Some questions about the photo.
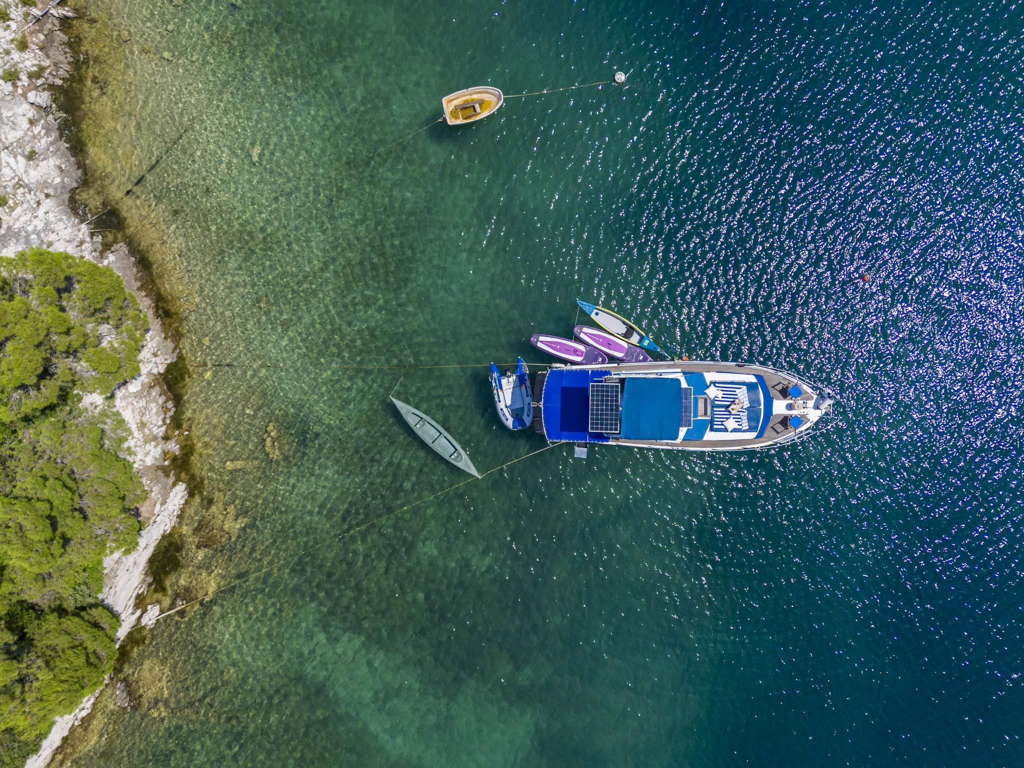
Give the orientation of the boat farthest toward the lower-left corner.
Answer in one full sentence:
From this overhead view, the boat farthest toward the lower-left corner appears to run on a diagonal.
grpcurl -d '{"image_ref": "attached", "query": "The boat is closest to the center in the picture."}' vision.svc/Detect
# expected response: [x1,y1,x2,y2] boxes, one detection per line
[490,357,533,430]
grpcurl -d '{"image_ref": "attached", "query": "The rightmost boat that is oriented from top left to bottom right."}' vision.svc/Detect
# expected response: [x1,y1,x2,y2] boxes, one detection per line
[576,301,672,359]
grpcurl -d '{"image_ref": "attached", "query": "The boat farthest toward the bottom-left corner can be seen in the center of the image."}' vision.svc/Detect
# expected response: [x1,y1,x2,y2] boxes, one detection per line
[390,397,481,479]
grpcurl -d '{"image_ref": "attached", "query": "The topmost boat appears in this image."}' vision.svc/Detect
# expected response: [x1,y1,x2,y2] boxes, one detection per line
[442,86,504,127]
